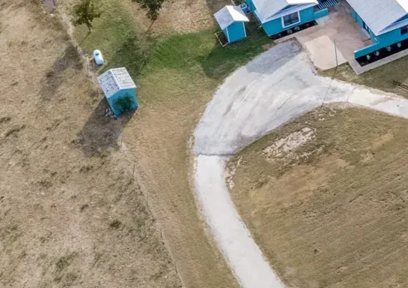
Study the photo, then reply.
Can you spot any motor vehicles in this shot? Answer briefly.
No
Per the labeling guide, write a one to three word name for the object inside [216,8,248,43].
shed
